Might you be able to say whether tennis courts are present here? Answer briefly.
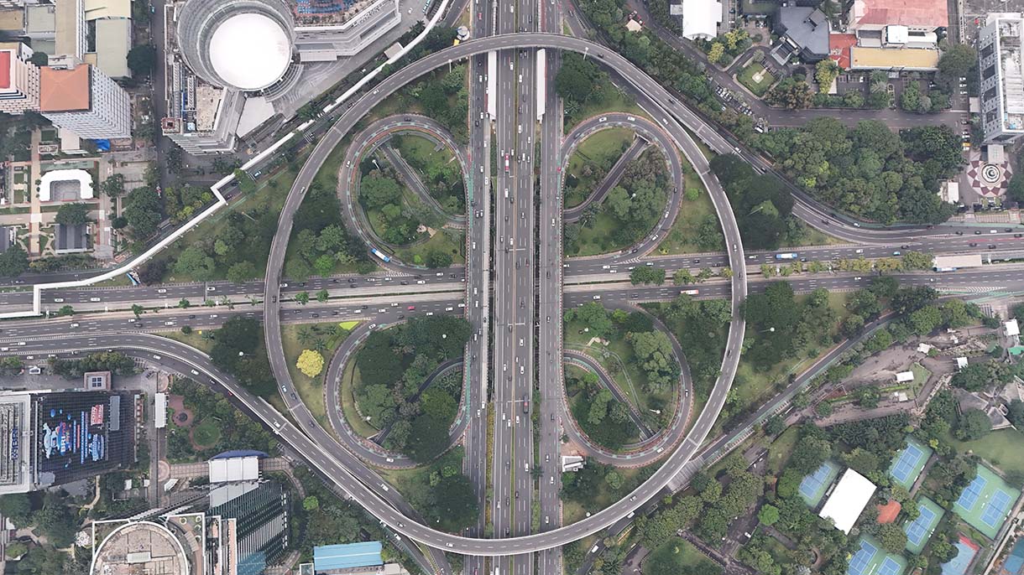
Yes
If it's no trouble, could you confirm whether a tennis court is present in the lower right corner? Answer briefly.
Yes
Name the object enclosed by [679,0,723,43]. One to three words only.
building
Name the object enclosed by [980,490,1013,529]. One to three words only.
tennis court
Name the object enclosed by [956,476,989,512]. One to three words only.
tennis court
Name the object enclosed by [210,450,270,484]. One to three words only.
building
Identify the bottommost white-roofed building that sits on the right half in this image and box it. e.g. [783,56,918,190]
[816,467,878,535]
